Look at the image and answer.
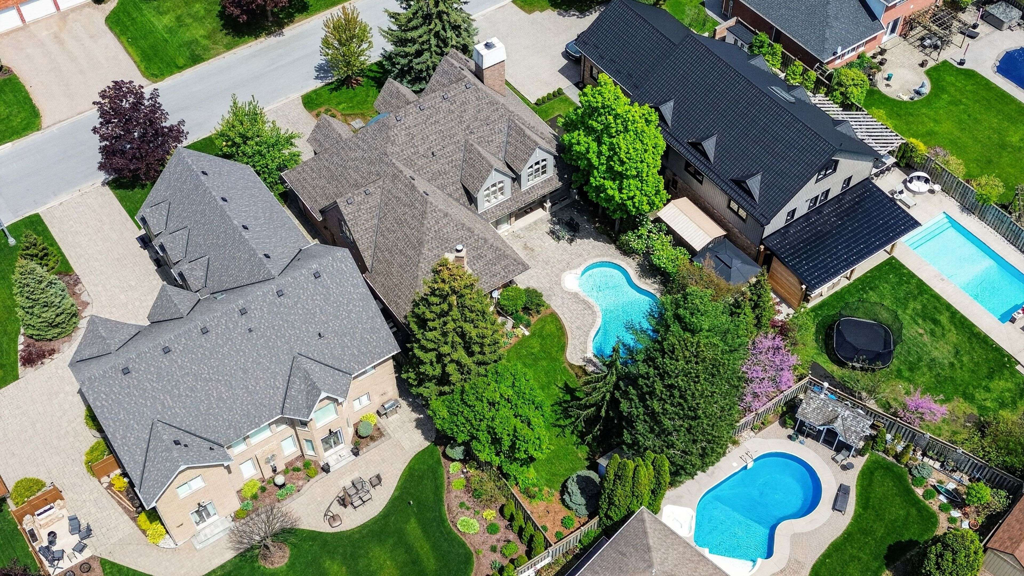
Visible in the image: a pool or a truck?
pool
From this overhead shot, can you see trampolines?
Yes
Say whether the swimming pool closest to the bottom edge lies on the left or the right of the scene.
right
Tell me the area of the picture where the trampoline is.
right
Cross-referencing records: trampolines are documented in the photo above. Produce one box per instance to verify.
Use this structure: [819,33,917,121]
[835,293,902,372]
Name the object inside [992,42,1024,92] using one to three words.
swimming pool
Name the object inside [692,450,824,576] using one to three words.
swimming pool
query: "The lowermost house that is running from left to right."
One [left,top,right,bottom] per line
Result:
[565,507,732,576]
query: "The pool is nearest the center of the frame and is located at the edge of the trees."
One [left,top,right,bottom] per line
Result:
[558,257,671,367]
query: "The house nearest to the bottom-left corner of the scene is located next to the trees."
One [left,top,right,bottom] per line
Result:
[65,146,401,549]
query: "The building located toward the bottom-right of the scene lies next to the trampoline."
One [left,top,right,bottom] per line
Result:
[794,378,877,460]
